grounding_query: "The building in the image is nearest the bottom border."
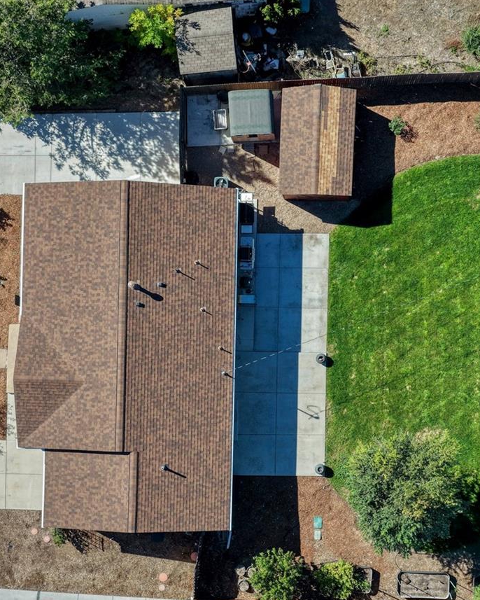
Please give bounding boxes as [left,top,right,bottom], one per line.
[13,181,241,549]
